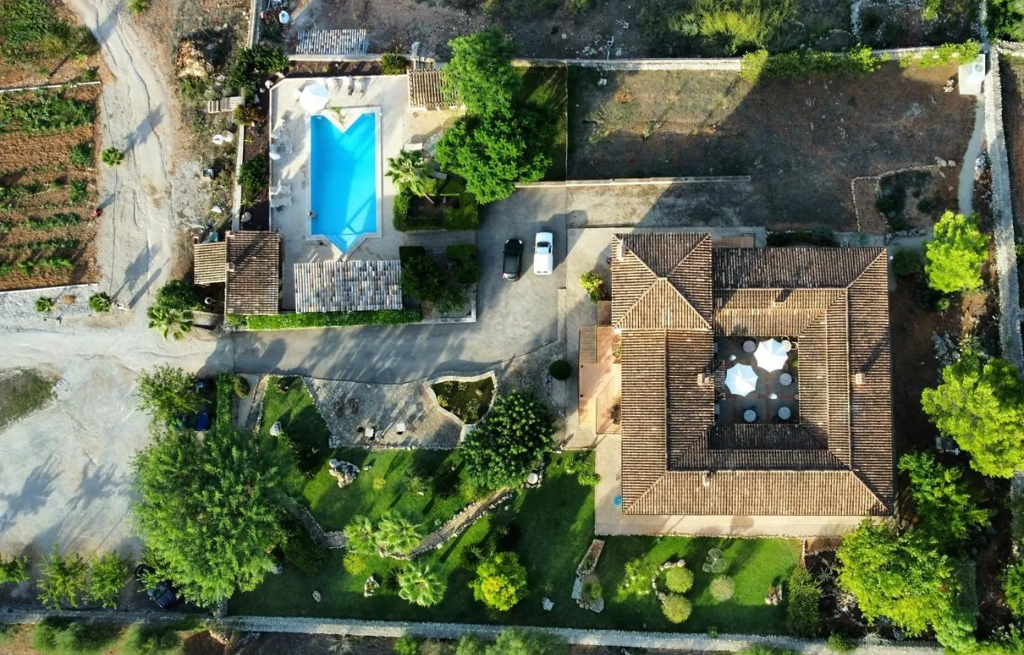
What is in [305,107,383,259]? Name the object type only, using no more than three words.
swimming pool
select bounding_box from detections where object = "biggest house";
[610,231,897,517]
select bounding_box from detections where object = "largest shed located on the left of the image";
[192,229,283,313]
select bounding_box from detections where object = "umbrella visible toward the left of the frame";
[300,84,331,114]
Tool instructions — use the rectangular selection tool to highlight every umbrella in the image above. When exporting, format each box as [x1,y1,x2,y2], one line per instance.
[727,364,755,395]
[300,84,331,114]
[753,338,786,372]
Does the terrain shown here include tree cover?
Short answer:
Yes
